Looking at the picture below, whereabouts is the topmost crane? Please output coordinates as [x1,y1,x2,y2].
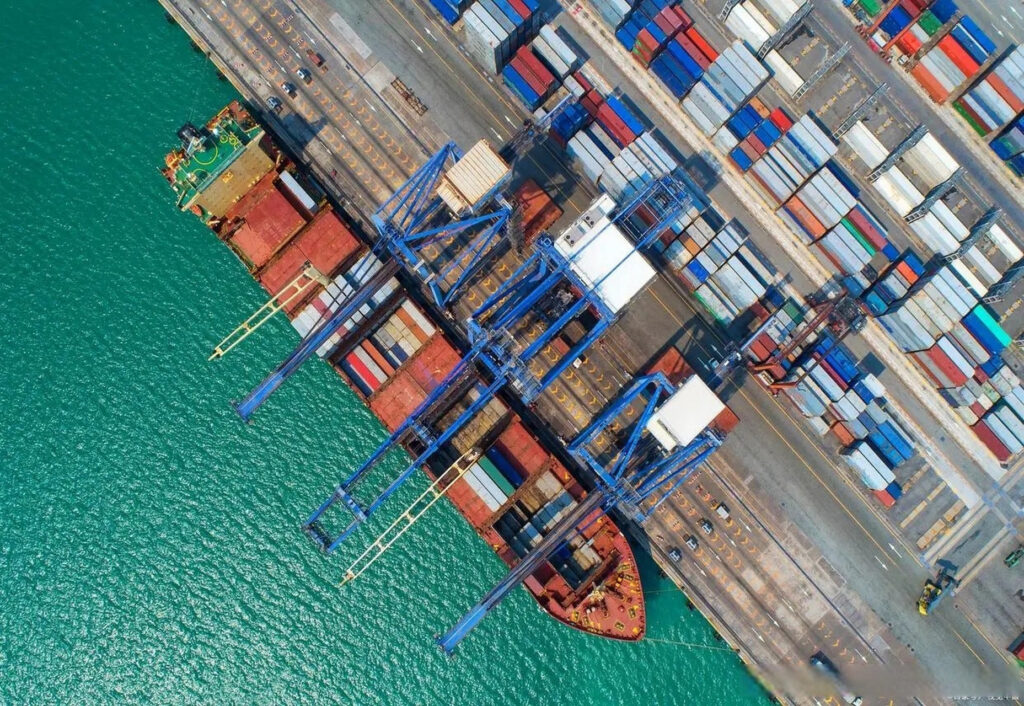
[860,0,951,57]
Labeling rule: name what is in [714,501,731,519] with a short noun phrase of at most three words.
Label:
vehicle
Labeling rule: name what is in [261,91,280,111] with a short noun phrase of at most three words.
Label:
vehicle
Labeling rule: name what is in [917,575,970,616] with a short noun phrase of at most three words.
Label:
work vehicle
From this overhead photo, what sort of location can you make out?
port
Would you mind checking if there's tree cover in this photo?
No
